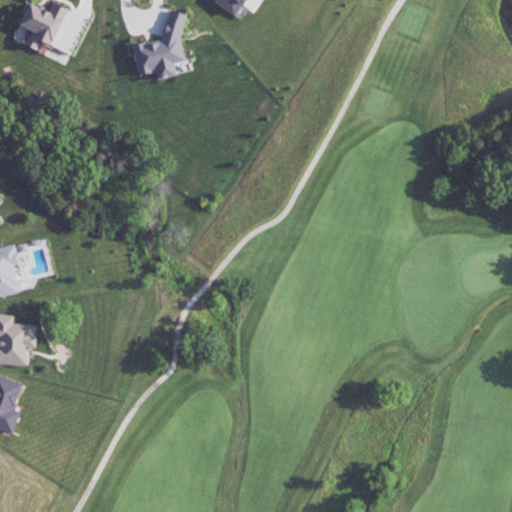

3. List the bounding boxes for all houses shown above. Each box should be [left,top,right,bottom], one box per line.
[0,314,36,369]
[0,240,23,298]
[208,0,252,20]
[130,6,190,80]
[12,0,71,42]
[0,371,26,437]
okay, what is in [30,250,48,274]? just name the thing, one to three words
swimming pool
